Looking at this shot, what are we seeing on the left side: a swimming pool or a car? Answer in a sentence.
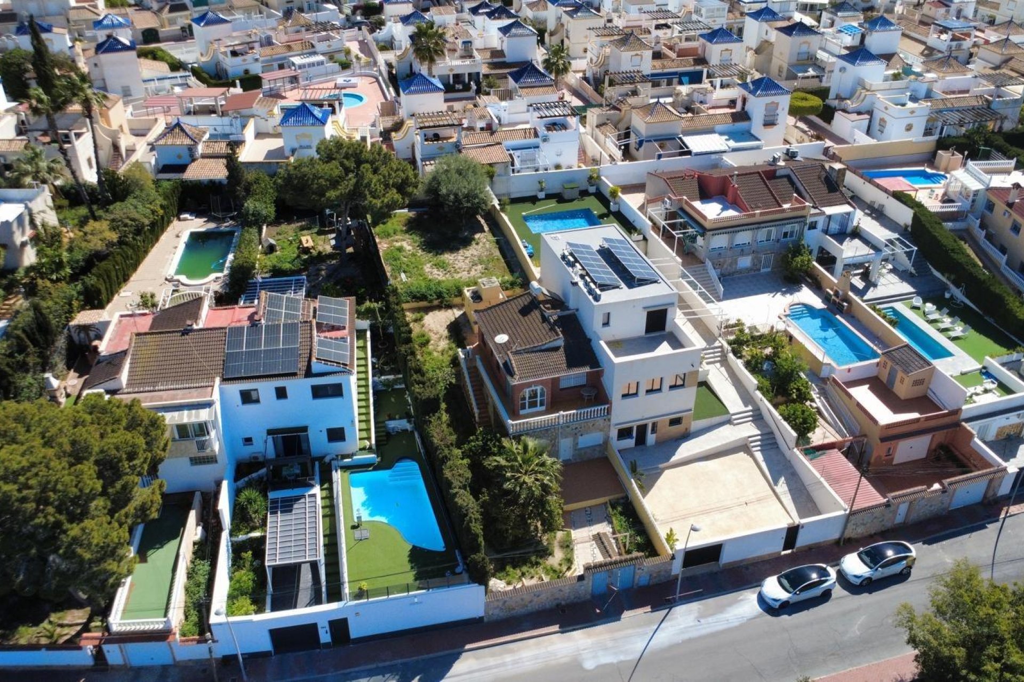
Visible on the left side is a swimming pool.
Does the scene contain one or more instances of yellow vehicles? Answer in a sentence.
No, there appears to be no yellow vehicle in this shot.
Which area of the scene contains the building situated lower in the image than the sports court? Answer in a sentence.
The building situated lower in the image than the sports court is located in the bottom left region of the scene.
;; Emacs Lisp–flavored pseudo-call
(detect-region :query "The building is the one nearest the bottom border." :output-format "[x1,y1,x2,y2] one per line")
[64,615,217,665]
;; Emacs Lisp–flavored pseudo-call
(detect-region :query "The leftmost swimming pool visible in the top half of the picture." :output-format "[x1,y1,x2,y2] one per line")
[165,228,240,283]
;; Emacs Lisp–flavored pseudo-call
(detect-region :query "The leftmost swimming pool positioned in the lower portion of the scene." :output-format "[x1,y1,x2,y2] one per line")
[349,459,446,553]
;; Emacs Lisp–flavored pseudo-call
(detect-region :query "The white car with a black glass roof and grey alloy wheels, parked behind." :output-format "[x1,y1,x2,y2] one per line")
[839,538,920,585]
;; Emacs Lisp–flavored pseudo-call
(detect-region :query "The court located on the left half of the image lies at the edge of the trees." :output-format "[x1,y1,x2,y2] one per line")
[121,492,192,620]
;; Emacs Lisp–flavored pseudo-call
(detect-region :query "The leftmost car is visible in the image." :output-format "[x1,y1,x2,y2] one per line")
[758,559,841,608]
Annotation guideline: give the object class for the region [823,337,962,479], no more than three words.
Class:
house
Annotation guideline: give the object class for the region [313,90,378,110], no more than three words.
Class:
swimming pool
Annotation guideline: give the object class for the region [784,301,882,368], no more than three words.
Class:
swimming pool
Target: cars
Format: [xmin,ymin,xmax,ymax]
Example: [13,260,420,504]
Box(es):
[839,538,920,585]
[758,559,841,608]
